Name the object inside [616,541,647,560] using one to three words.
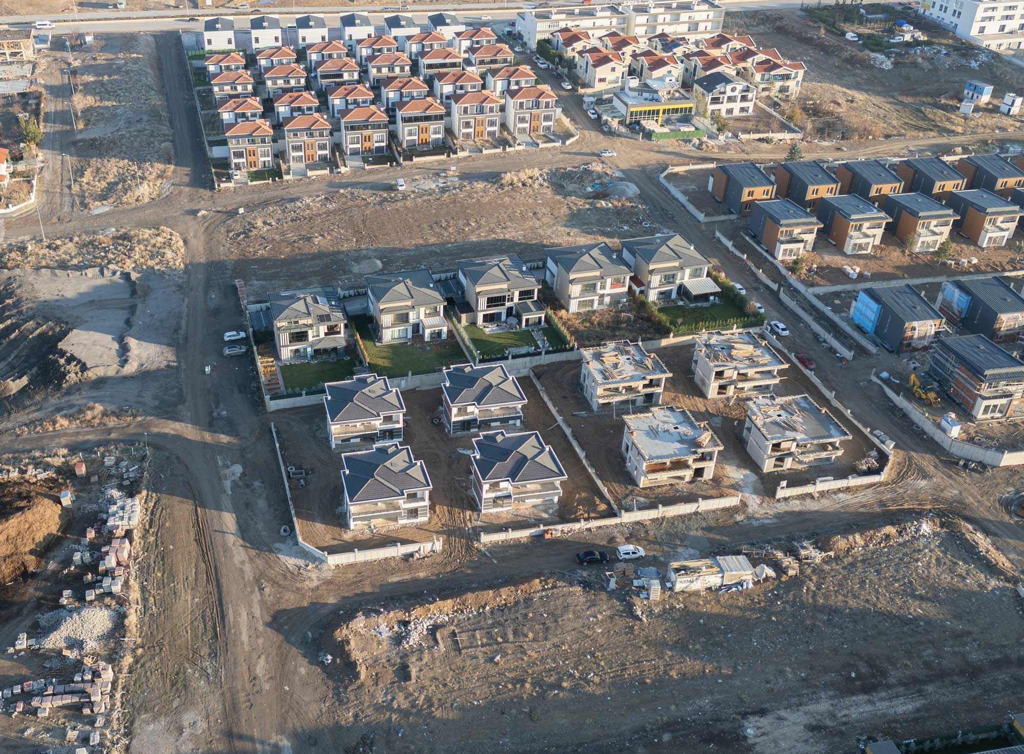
vehicle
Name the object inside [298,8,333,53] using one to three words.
building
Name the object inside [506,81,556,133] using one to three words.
house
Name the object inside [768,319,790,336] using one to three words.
car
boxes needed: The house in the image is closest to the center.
[443,357,527,433]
